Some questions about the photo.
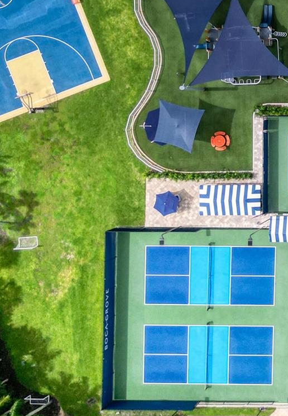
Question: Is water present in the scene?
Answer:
No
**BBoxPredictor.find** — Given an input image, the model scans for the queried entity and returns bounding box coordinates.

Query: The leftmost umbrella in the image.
[137,110,160,144]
